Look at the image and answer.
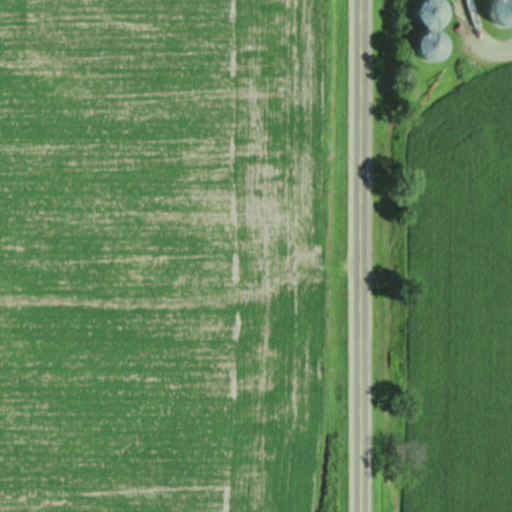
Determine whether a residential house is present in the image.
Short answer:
No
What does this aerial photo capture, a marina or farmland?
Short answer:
farmland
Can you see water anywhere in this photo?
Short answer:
No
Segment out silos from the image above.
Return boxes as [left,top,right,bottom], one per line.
[414,31,452,66]
[488,0,512,30]
[414,0,452,33]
